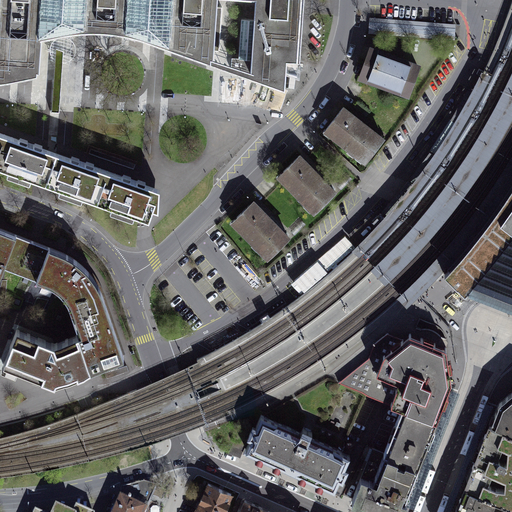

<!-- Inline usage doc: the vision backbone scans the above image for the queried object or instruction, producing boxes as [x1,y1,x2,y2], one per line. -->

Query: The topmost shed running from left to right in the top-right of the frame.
[368,17,456,38]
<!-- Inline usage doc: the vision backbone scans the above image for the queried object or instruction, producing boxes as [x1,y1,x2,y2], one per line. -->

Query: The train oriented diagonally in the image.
[365,26,512,256]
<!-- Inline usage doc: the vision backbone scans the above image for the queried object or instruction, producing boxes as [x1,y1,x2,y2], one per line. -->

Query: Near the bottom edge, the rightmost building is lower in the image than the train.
[456,387,512,512]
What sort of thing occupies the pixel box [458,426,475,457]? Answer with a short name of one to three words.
vehicle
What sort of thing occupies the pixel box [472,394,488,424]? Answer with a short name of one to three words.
vehicle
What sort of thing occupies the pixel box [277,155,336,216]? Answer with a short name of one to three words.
house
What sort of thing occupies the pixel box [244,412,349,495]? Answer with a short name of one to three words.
building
